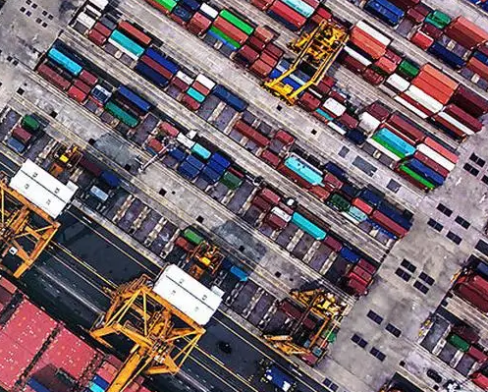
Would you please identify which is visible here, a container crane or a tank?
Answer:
container crane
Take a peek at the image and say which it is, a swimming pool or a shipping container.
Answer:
shipping container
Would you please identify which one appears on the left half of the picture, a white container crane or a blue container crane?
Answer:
white container crane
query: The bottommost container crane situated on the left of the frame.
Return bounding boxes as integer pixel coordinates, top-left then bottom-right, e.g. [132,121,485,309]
[86,257,230,392]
